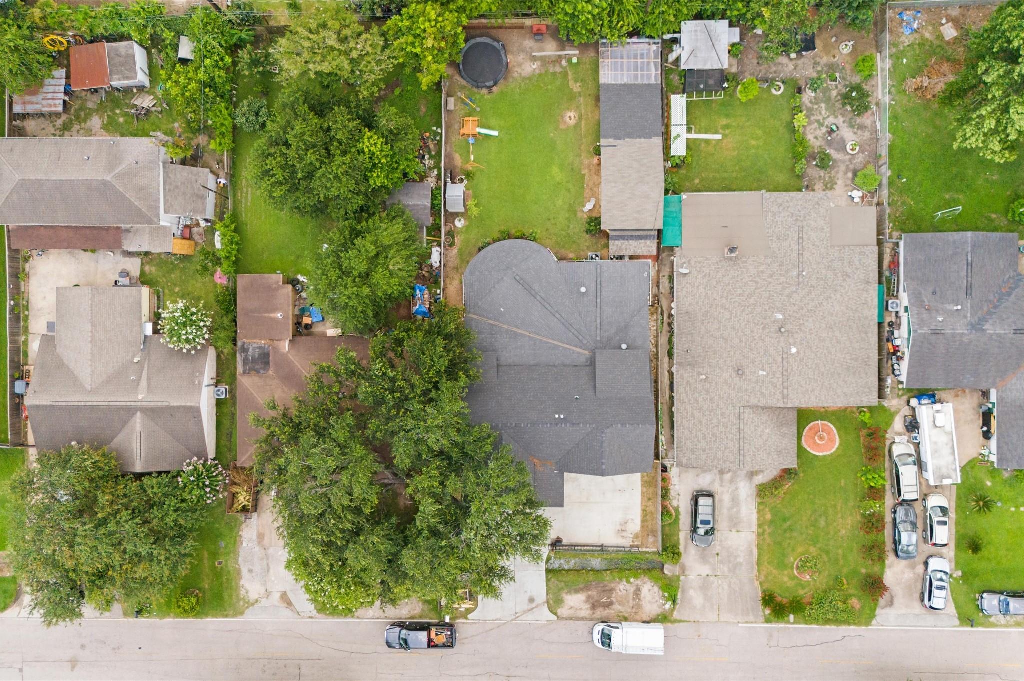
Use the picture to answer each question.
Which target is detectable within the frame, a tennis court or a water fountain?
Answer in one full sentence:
Looking from above, you can make out a water fountain.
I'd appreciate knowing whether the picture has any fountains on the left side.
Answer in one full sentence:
No, looking on the left side, there is no fountain.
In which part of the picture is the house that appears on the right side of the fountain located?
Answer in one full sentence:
The house that appears on the right side of the fountain appears toward the right of the photo.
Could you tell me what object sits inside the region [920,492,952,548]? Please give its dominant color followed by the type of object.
white car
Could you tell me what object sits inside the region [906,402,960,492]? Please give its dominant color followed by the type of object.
white trailer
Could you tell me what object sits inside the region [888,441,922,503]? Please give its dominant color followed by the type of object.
white car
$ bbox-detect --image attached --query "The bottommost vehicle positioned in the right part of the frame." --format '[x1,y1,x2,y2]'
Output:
[592,618,667,656]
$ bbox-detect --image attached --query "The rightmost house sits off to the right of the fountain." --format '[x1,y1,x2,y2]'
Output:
[896,232,1024,469]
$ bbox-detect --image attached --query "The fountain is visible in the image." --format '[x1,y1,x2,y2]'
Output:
[803,420,840,457]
